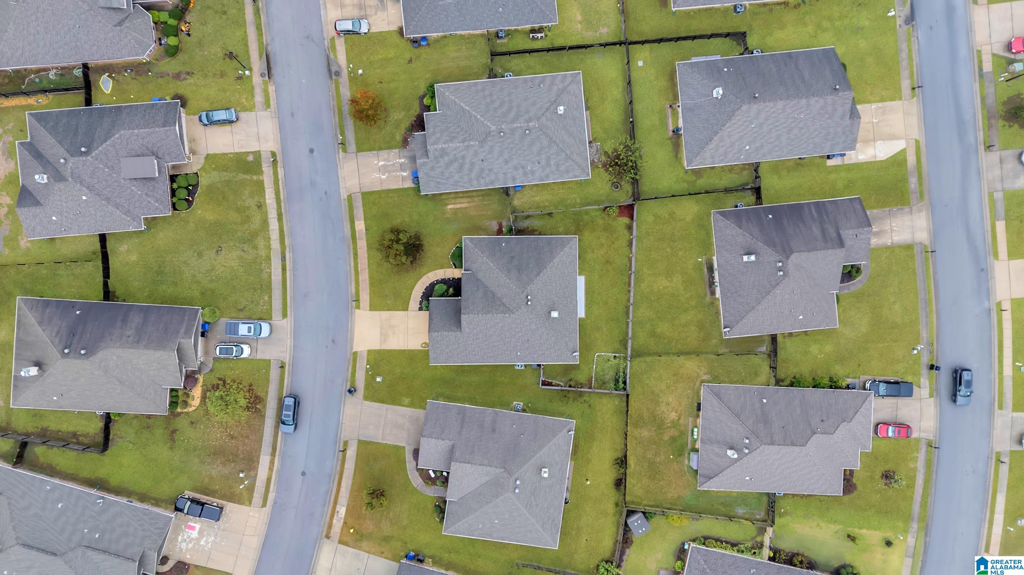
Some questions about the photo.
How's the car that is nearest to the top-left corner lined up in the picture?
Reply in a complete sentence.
The car that is nearest to the top-left corner has been laid out horizontally relative to the frame.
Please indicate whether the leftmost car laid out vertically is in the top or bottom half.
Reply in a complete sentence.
You can find the leftmost car laid out vertically in the bottom half.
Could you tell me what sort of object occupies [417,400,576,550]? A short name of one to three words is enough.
house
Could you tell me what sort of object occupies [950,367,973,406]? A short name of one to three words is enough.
car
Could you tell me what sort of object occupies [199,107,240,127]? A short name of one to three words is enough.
car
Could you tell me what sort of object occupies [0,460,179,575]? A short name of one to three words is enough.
house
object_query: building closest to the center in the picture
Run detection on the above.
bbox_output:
[428,235,579,366]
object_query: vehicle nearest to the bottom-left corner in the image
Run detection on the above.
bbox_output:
[175,494,225,524]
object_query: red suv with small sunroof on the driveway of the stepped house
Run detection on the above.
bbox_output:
[874,422,914,441]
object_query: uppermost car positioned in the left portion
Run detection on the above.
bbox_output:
[334,16,370,36]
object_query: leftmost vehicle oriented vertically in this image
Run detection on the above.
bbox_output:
[280,394,301,434]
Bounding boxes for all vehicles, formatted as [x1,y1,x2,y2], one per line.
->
[224,320,272,339]
[864,379,914,399]
[280,394,301,434]
[874,422,914,441]
[950,367,973,406]
[334,16,370,36]
[199,107,240,127]
[1007,36,1024,54]
[214,342,252,360]
[175,494,225,524]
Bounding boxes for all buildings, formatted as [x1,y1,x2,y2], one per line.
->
[680,540,837,575]
[401,0,559,40]
[0,0,161,73]
[417,400,576,550]
[15,99,192,240]
[414,70,592,195]
[696,383,875,496]
[0,460,179,575]
[675,45,861,169]
[625,512,650,537]
[428,235,579,366]
[709,195,872,339]
[10,296,206,415]
[669,0,803,14]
